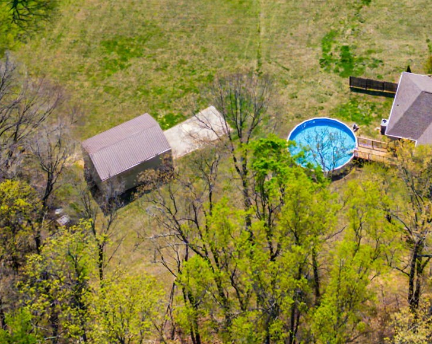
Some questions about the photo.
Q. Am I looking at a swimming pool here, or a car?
swimming pool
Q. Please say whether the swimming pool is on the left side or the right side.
right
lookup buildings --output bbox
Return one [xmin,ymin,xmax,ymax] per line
[385,69,432,172]
[83,114,173,198]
